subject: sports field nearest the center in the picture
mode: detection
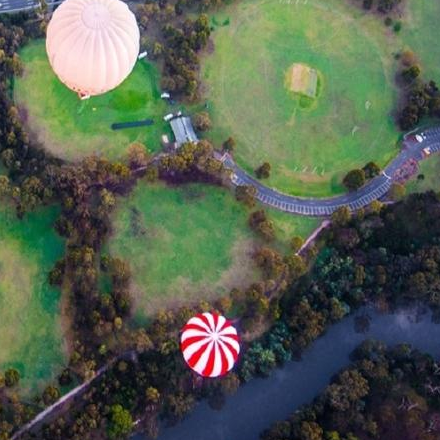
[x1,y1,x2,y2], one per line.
[110,181,264,320]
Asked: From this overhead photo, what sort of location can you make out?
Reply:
sports ground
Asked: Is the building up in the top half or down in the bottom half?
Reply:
top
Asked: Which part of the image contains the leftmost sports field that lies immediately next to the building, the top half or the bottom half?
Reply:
top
